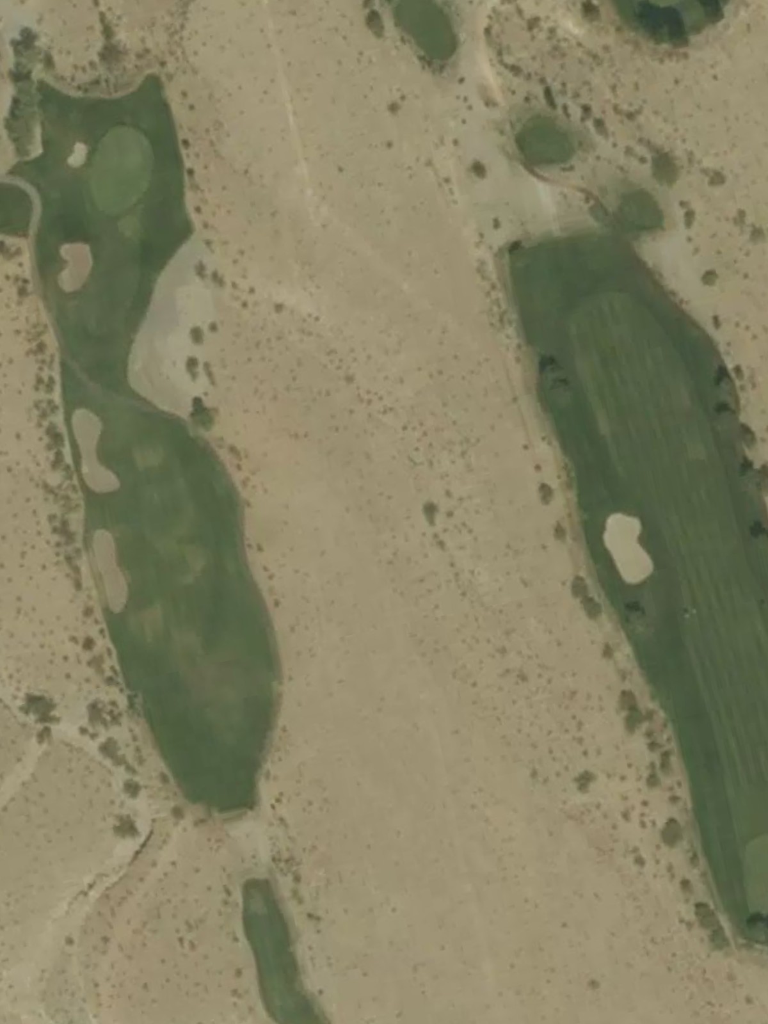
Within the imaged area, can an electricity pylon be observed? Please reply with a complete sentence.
No, I find no electricity pylon anywhere in the image.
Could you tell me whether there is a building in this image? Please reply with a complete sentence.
No, I find no building anywhere in the image.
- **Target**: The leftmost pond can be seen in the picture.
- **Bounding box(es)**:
[632,0,688,46]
